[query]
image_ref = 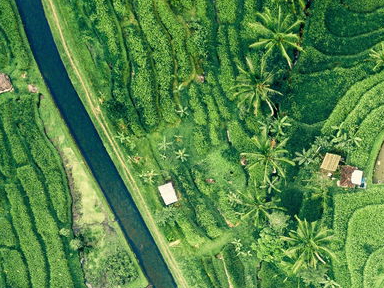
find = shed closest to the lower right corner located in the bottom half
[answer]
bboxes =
[339,167,358,190]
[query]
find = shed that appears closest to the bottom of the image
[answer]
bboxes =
[158,182,183,206]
